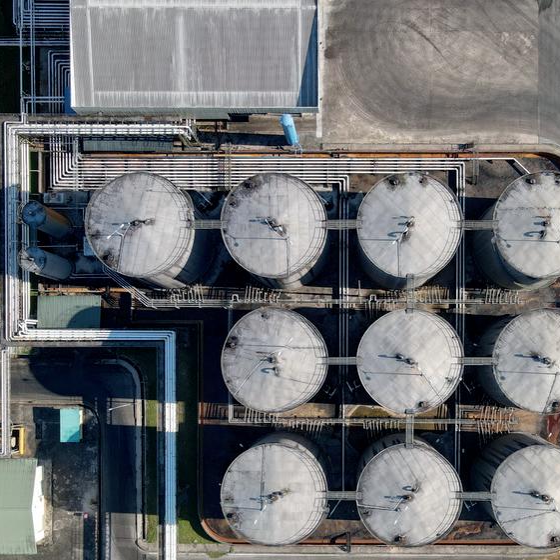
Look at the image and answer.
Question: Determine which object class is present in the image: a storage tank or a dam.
storage tank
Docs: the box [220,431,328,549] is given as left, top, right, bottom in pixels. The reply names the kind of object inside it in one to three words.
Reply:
storage tank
